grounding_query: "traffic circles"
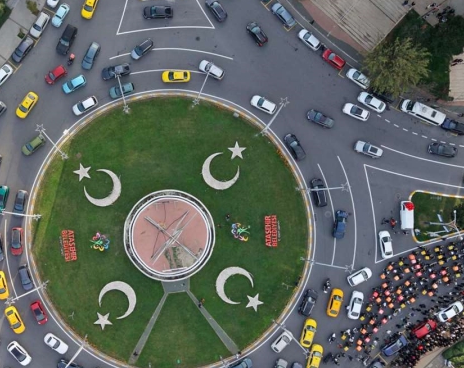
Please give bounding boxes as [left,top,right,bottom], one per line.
[30,93,310,368]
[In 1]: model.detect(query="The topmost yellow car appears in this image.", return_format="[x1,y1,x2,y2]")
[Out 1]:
[83,0,99,21]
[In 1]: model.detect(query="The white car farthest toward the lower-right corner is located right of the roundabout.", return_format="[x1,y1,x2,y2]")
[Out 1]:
[435,299,463,321]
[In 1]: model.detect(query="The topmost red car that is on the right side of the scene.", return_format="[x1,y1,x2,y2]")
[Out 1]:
[320,48,346,71]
